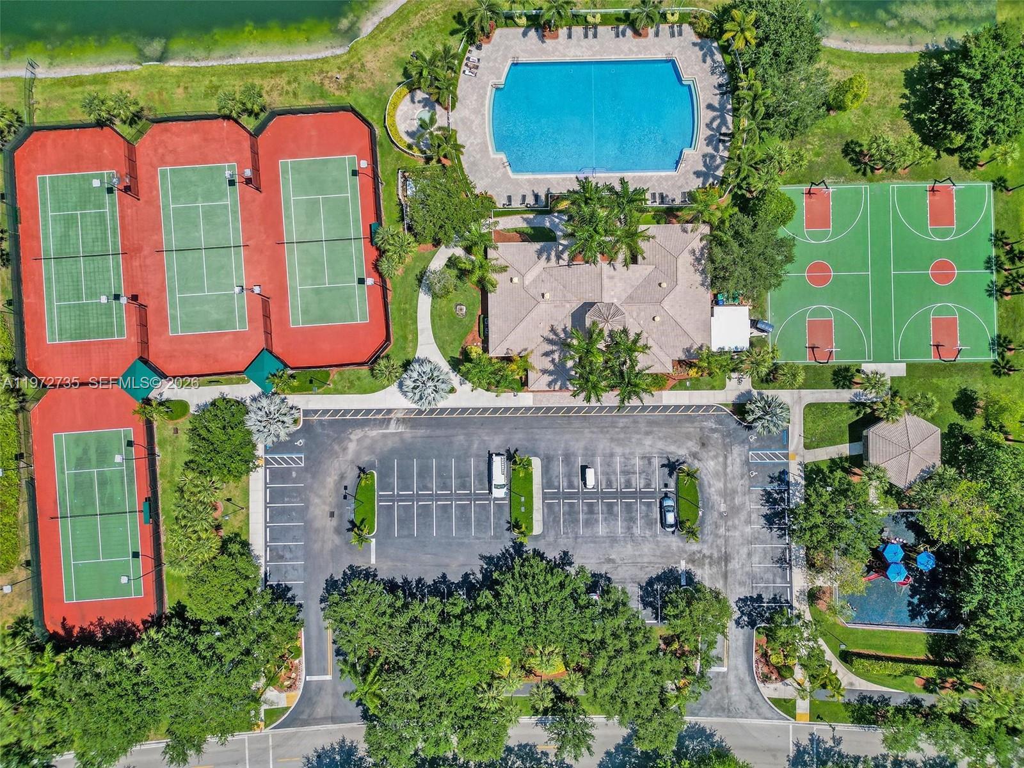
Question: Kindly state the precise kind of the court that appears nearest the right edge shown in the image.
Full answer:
I'd say the court that appears nearest the right edge is a basketball court.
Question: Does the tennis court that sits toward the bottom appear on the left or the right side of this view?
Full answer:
The tennis court that sits toward the bottom sits on the left side.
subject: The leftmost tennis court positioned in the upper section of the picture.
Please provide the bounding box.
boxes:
[15,127,149,387]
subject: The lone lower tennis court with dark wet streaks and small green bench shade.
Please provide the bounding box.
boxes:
[31,385,167,634]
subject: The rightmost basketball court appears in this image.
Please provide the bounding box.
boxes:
[878,181,998,363]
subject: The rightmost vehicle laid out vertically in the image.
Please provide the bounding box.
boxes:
[660,497,676,531]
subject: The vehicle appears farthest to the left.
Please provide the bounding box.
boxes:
[490,455,508,499]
